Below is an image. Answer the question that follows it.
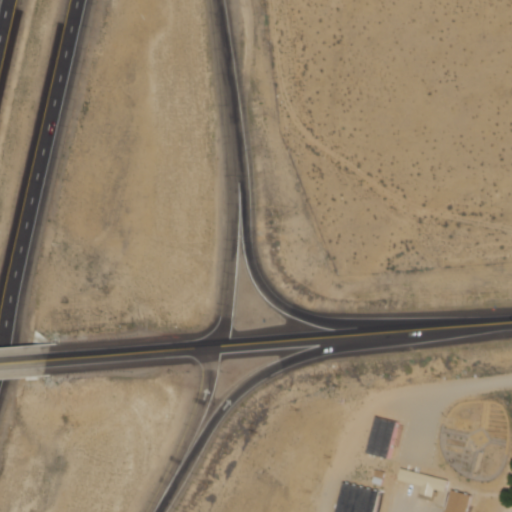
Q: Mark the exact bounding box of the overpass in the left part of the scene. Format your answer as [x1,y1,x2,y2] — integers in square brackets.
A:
[0,330,56,380]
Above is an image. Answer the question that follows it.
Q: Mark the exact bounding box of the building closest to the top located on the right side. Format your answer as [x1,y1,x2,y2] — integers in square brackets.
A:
[366,415,403,458]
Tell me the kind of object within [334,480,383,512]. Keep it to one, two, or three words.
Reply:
barn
